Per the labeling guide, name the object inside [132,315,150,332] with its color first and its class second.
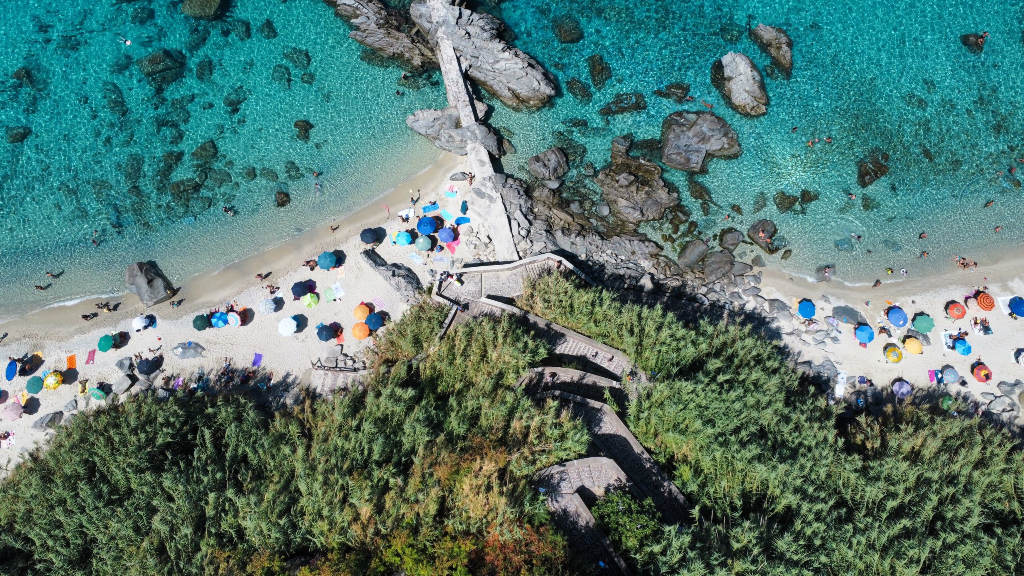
white umbrella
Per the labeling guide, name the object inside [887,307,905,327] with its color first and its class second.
blue umbrella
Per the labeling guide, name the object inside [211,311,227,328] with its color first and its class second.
blue umbrella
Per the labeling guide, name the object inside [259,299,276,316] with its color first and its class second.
white umbrella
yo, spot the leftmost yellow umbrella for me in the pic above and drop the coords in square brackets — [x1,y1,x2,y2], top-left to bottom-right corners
[45,372,64,390]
